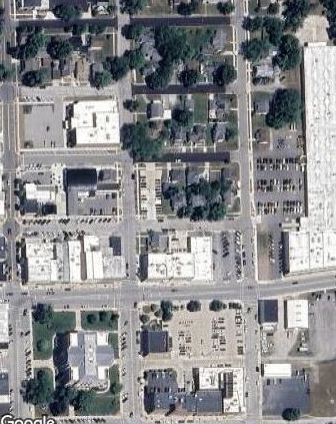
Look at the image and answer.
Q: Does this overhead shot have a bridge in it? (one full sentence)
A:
No, the picture doesn't show any bridge.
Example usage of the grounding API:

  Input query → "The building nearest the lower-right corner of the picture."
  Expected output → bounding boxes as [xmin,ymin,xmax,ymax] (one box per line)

[264,363,291,377]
